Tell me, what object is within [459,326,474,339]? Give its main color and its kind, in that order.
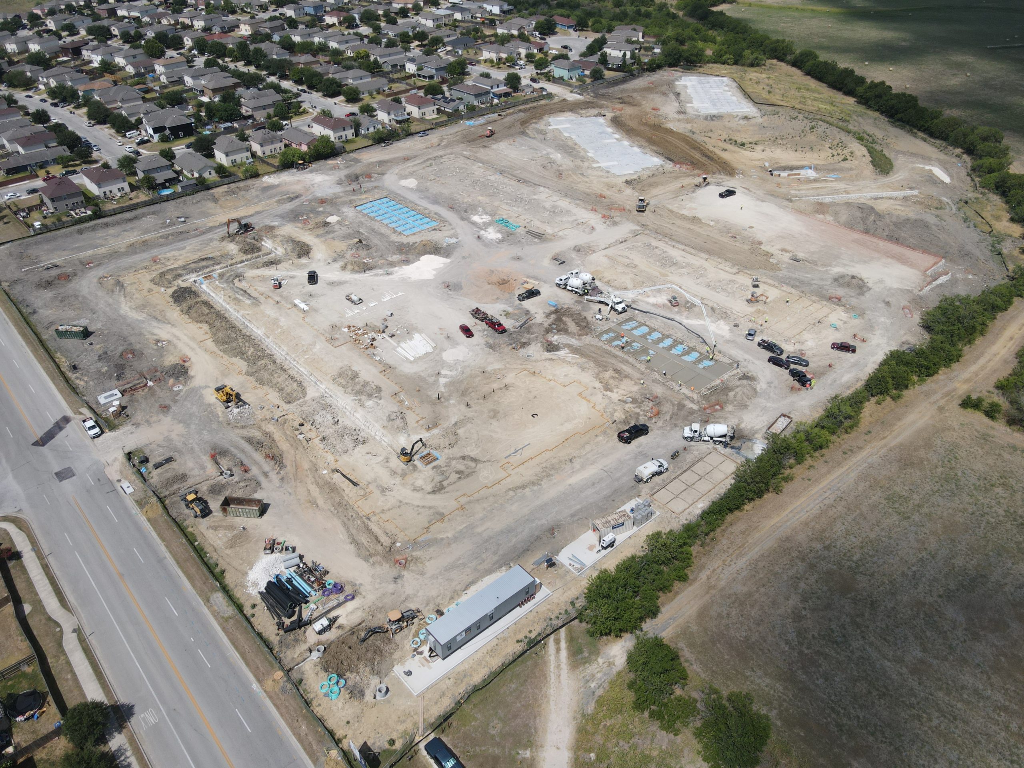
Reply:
red vehicle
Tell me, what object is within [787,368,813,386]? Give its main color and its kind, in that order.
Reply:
black vehicle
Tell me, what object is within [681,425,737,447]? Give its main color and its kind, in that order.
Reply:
white truck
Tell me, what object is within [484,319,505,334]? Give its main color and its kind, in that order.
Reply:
red vehicle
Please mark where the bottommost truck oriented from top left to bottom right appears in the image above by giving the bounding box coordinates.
[422,731,462,768]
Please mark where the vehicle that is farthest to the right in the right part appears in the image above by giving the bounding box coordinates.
[829,342,858,354]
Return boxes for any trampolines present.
[5,684,43,718]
